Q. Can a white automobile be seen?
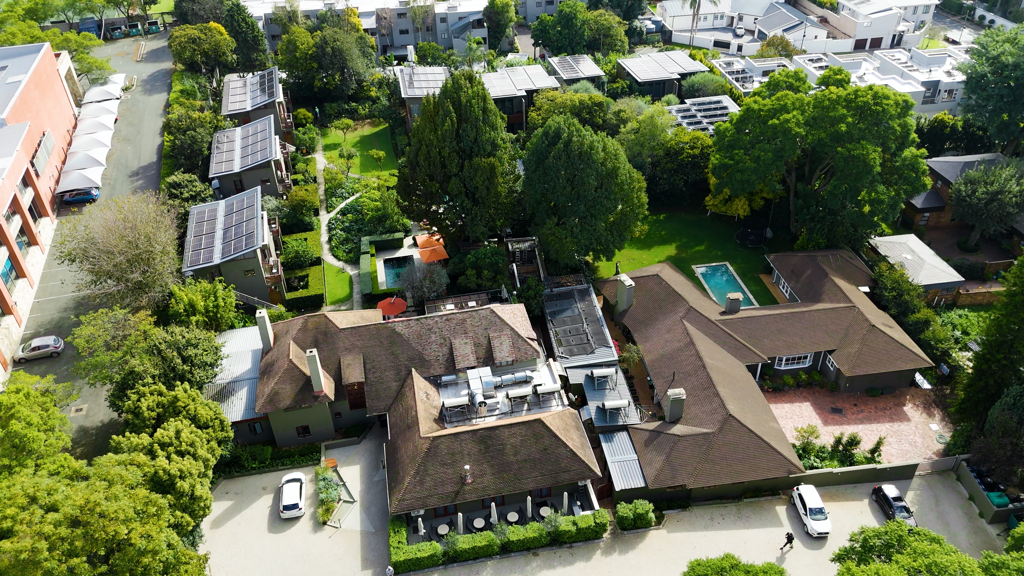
Yes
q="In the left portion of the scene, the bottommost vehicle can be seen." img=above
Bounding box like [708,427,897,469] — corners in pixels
[276,469,307,520]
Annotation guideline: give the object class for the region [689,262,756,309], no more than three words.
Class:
swimming pool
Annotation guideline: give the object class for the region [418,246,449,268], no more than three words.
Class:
umbrella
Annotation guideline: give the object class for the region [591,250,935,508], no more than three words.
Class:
house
